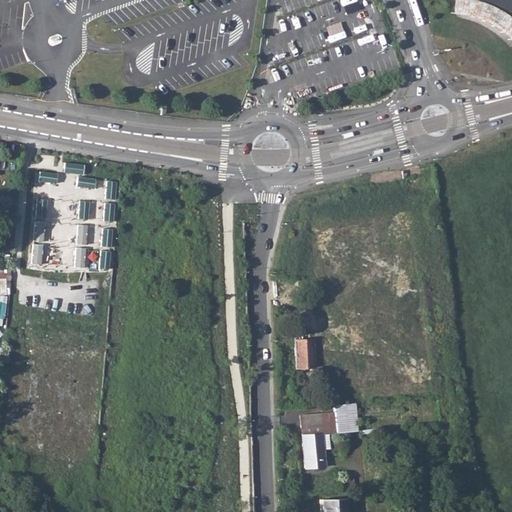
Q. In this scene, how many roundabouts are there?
2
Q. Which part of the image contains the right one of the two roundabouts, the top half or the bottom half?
top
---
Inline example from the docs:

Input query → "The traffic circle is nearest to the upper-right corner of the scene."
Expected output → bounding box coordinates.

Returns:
[404,90,466,152]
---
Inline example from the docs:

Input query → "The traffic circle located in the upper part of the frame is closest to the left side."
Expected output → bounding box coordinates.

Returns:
[236,117,306,188]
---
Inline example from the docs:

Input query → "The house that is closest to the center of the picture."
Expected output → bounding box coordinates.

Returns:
[296,339,317,370]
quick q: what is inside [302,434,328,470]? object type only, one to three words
house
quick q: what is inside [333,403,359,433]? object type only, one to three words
shed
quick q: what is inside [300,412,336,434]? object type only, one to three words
barn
